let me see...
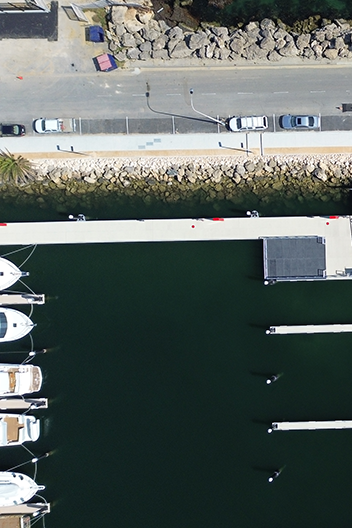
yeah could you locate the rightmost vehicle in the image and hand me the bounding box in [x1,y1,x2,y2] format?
[282,113,321,131]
